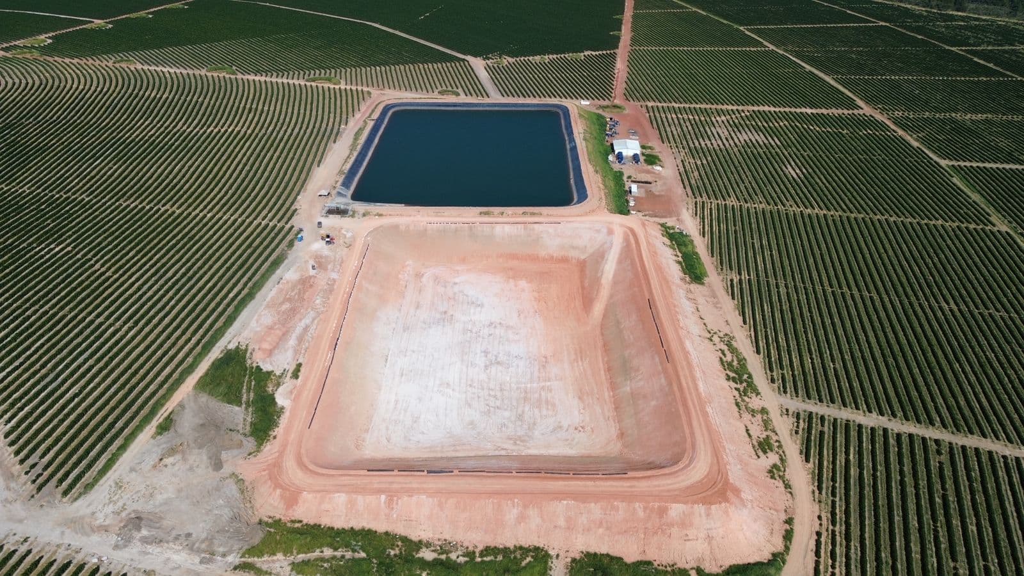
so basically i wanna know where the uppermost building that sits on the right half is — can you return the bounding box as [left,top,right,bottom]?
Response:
[612,139,641,159]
